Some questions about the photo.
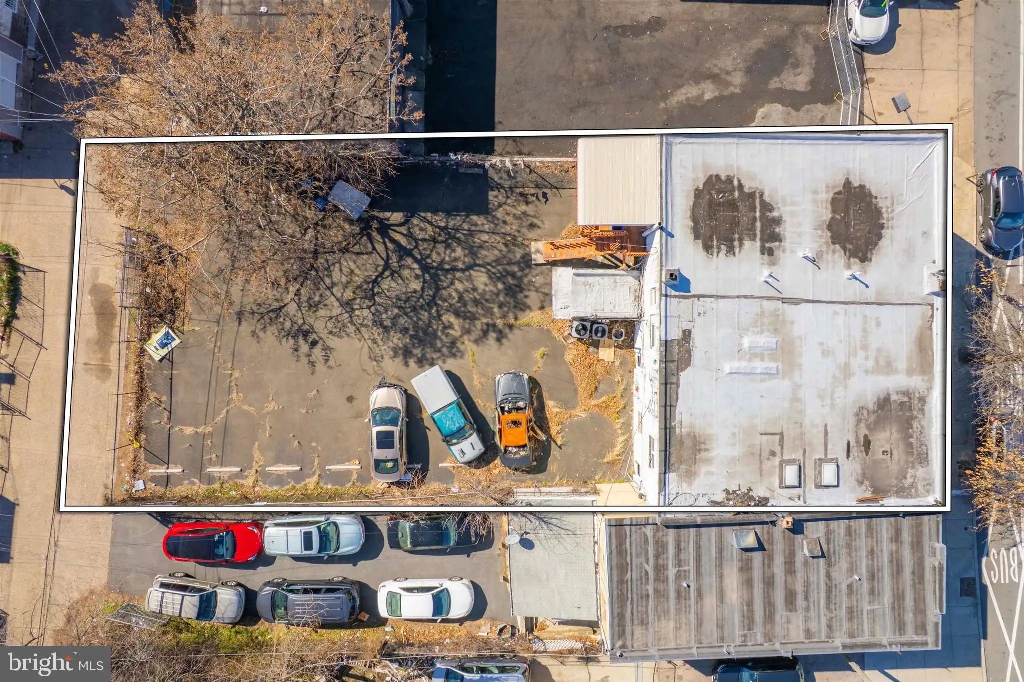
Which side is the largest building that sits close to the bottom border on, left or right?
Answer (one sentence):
The largest building that sits close to the bottom border is on the right side of the image.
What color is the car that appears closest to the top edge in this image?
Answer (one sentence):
The color of the car that appears closest to the top edge is white.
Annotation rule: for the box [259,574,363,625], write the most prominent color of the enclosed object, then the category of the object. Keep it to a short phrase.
gray car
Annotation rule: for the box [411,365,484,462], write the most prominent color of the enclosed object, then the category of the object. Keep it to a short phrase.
white truck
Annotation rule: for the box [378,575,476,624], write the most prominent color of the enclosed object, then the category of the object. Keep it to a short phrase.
white car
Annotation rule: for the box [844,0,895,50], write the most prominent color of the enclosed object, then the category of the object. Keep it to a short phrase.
white car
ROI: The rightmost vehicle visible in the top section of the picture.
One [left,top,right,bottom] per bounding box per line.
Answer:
[971,167,1024,257]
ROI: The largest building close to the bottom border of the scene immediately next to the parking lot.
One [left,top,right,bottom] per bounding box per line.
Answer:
[591,490,949,663]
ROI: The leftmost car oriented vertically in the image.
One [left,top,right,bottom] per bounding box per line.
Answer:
[365,374,410,482]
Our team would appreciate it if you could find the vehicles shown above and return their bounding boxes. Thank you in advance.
[844,0,895,50]
[411,365,484,462]
[163,517,265,566]
[259,574,363,625]
[492,370,547,466]
[389,510,486,556]
[971,167,1024,257]
[378,575,476,624]
[365,374,410,482]
[263,510,368,559]
[705,657,809,682]
[142,569,252,625]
